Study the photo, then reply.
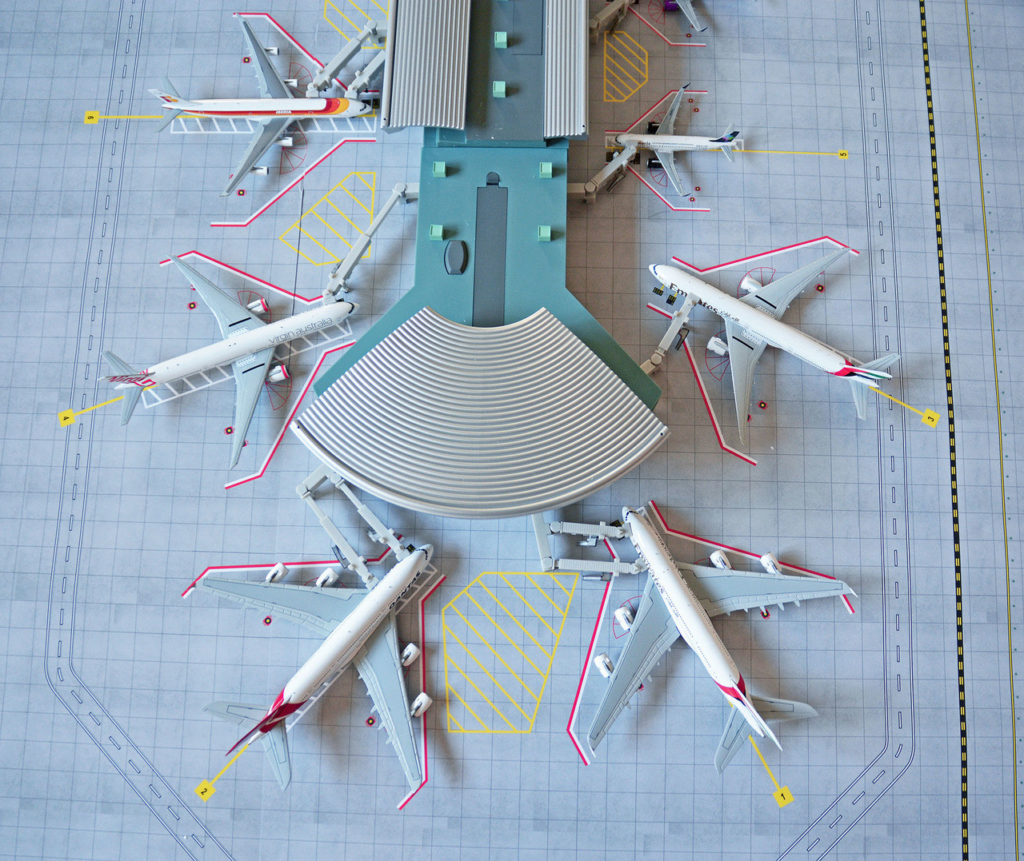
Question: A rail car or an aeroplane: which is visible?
aeroplane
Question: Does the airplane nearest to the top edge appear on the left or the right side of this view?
right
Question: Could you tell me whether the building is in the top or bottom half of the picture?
top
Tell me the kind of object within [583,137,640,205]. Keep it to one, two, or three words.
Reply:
jet bridge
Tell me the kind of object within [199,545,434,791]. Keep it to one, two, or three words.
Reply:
airplane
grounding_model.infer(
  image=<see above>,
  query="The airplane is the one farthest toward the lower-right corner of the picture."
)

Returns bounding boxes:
[589,509,858,769]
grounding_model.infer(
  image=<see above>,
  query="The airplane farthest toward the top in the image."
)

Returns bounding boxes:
[665,0,707,31]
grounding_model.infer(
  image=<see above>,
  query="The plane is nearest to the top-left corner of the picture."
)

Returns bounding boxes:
[148,9,372,196]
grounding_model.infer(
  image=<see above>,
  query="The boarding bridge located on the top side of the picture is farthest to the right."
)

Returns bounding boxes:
[649,291,701,372]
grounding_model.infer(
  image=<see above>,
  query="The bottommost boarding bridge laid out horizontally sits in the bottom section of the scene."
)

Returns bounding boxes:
[540,555,648,581]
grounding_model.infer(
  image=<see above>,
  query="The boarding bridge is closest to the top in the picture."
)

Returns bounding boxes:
[589,0,634,45]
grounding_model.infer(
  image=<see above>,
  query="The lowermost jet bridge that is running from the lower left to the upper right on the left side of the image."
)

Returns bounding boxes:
[321,182,410,308]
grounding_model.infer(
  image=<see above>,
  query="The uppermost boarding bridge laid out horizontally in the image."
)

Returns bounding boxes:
[548,519,629,547]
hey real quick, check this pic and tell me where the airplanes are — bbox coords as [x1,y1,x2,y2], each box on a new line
[665,0,707,31]
[97,254,360,468]
[612,81,739,195]
[589,509,858,769]
[649,245,901,445]
[199,545,434,791]
[148,9,372,196]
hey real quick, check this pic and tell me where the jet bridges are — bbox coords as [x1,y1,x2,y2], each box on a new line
[321,182,410,308]
[548,519,629,547]
[344,46,386,103]
[296,483,382,592]
[306,18,382,101]
[540,555,648,581]
[583,137,640,205]
[589,0,634,45]
[649,291,701,372]
[329,472,412,562]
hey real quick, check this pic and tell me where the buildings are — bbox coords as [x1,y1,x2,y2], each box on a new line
[292,0,670,568]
